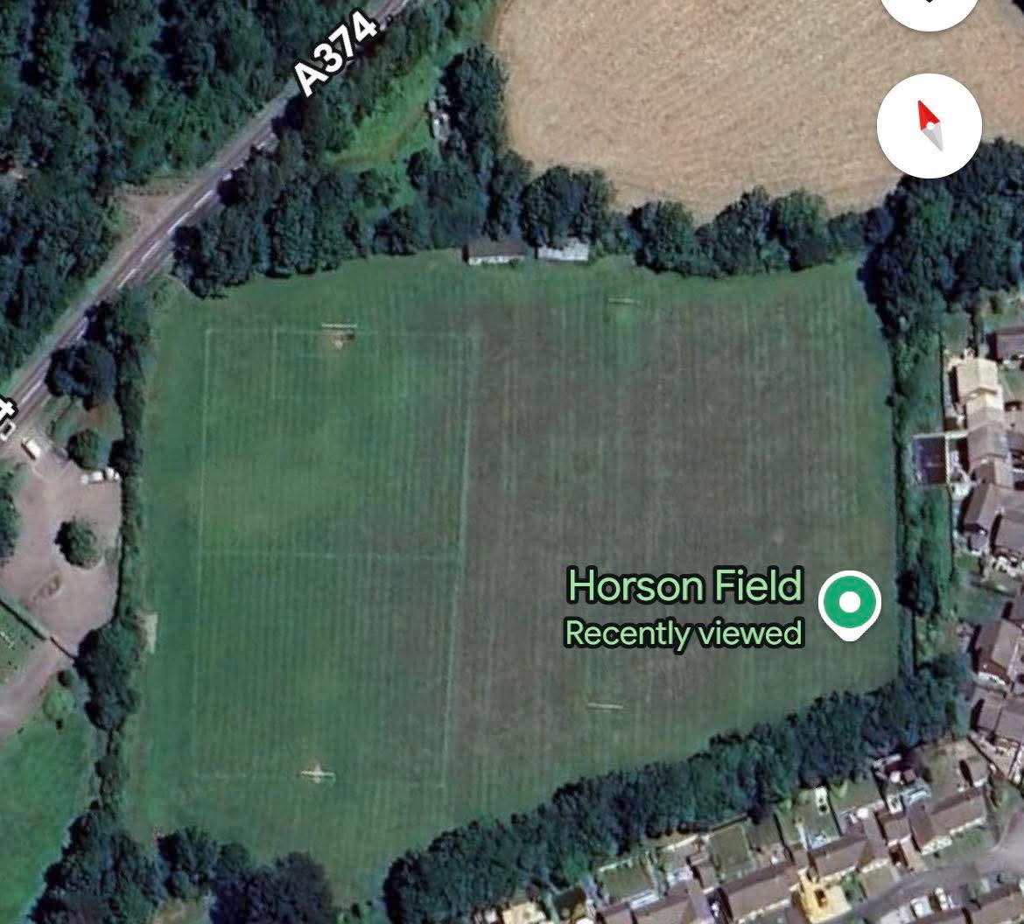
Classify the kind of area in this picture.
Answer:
sports ground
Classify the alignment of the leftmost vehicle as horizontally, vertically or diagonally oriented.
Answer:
diagonally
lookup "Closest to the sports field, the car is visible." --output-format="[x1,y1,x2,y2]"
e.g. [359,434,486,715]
[103,469,121,481]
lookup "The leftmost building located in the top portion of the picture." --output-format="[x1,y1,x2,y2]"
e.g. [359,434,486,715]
[469,242,524,261]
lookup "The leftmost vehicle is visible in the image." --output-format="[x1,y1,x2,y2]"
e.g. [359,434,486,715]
[23,437,43,458]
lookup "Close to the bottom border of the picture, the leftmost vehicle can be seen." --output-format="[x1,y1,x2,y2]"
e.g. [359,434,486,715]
[709,901,723,920]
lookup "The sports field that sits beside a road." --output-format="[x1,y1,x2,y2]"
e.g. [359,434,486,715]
[114,250,905,924]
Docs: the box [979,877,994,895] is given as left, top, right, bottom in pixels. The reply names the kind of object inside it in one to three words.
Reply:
car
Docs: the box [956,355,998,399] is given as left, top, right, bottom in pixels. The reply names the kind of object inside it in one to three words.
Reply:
house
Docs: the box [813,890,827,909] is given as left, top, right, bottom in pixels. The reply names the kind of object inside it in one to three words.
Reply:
car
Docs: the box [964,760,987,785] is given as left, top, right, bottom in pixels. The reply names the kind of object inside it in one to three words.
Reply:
building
